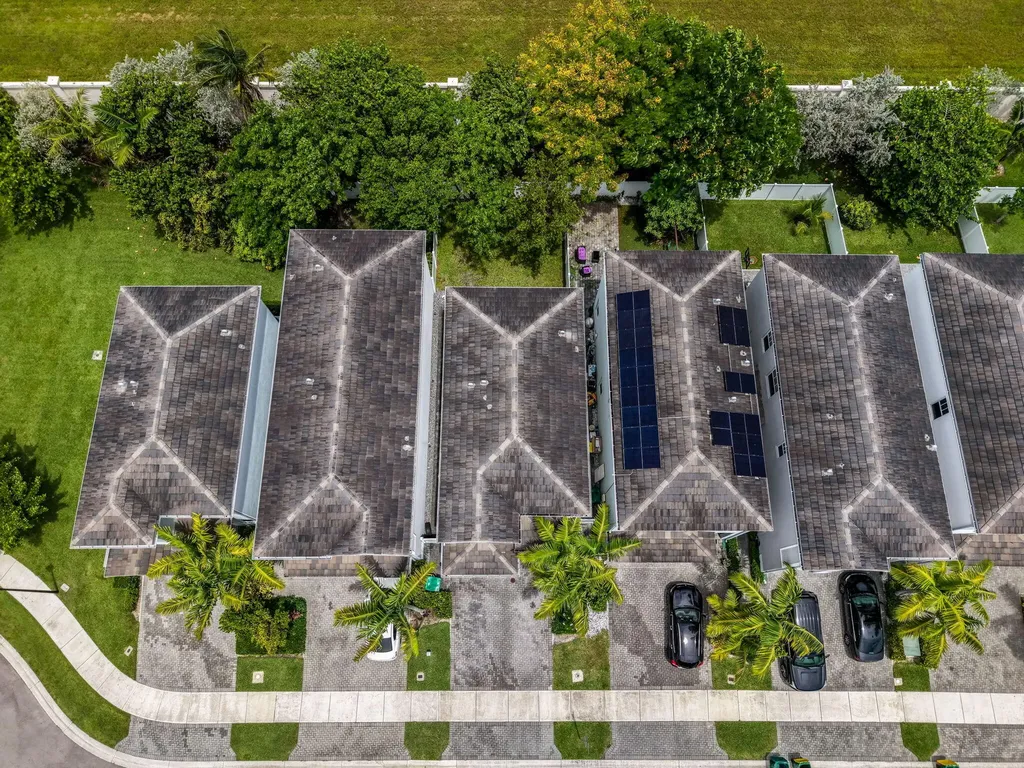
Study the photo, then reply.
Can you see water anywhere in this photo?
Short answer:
No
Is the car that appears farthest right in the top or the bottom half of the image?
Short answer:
bottom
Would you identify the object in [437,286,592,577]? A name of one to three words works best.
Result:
house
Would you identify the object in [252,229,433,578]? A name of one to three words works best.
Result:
house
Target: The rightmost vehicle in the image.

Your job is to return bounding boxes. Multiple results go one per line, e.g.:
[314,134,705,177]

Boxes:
[834,571,889,663]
